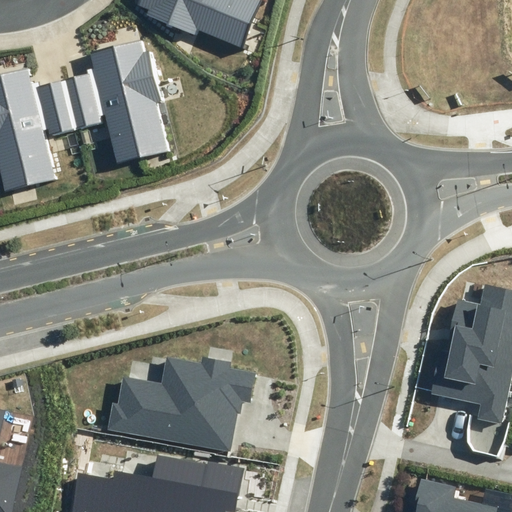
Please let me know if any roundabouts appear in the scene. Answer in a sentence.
Yes, I can see a roundabout in this picture.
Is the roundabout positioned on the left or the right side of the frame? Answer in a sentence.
The roundabout is on the right side of the image.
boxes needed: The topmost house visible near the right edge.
[432,285,512,424]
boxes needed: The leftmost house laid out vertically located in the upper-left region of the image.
[0,68,60,190]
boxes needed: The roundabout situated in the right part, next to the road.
[295,155,407,268]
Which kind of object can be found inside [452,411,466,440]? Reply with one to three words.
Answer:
car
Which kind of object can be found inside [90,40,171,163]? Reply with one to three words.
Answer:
house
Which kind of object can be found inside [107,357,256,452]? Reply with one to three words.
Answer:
house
